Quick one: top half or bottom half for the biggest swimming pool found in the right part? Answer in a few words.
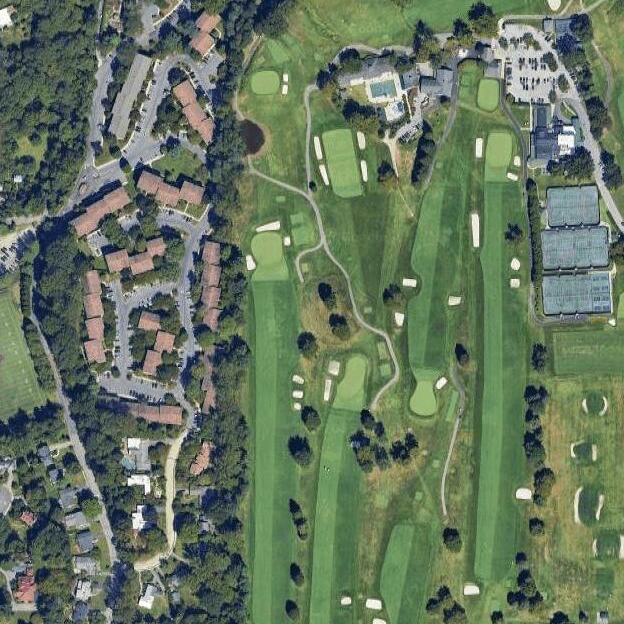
top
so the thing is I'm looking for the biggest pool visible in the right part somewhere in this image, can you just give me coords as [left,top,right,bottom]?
[364,71,404,104]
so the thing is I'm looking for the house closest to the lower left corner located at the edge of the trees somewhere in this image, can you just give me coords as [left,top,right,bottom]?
[7,563,36,603]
